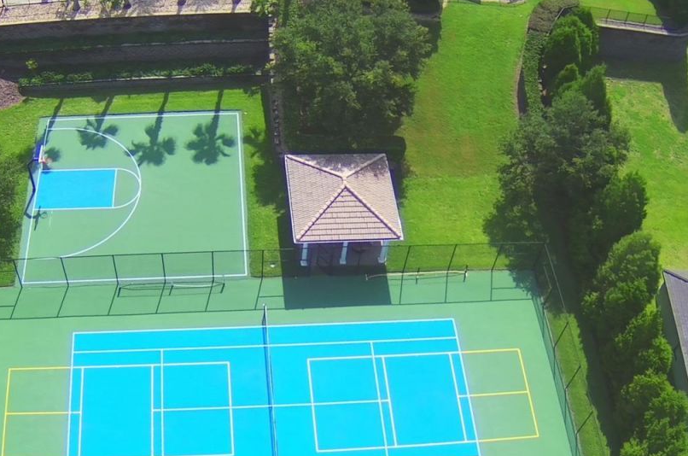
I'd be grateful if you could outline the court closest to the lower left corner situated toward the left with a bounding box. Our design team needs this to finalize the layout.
[1,360,234,456]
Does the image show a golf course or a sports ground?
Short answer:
sports ground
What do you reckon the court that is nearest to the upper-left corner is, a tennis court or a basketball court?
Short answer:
basketball court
